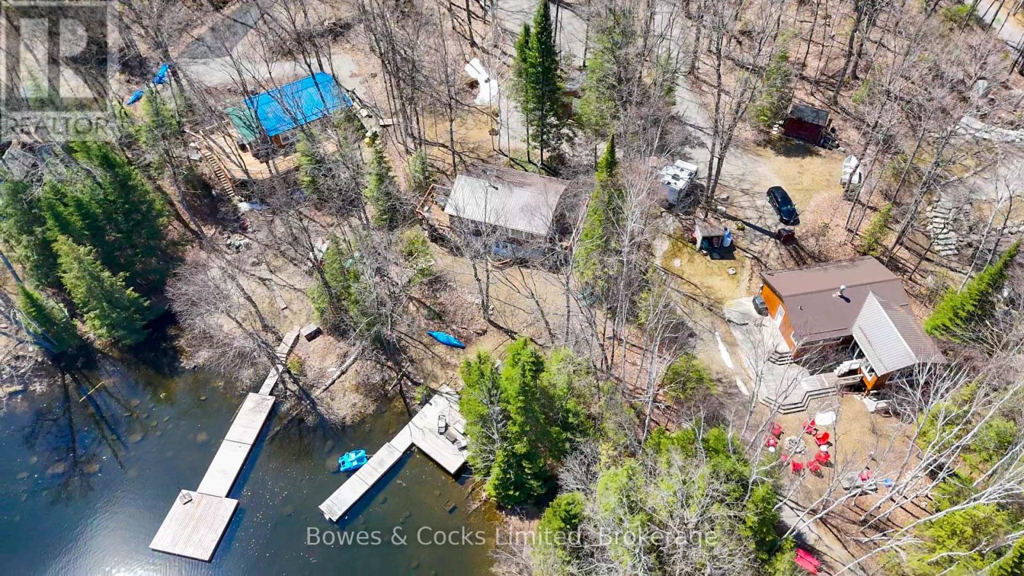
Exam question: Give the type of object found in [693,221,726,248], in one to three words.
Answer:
shed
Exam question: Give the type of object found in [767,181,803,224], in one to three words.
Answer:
car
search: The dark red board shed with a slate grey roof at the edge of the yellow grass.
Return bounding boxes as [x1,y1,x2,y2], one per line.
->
[788,100,839,151]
